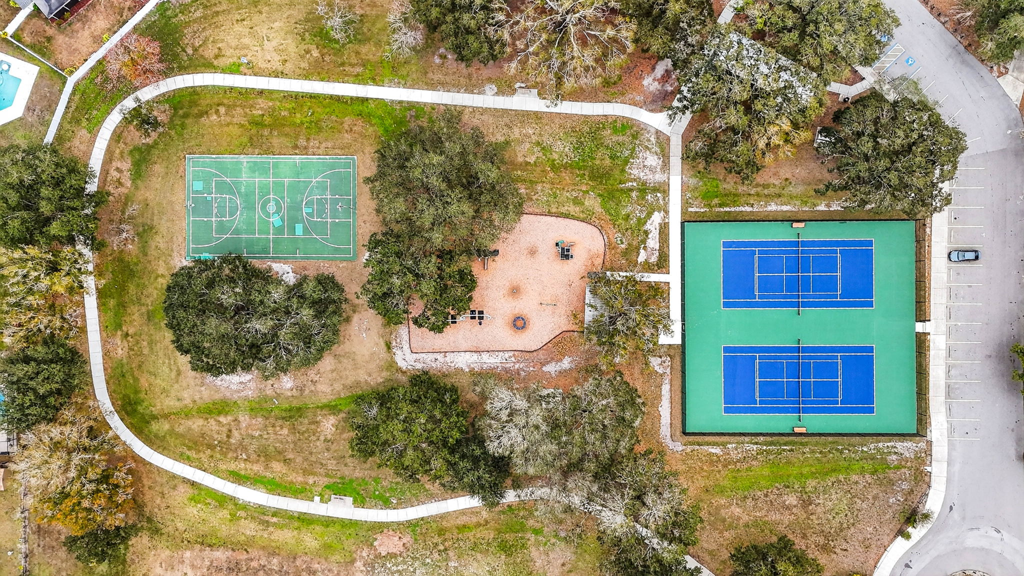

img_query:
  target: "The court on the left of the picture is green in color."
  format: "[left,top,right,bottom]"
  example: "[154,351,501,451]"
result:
[186,155,357,261]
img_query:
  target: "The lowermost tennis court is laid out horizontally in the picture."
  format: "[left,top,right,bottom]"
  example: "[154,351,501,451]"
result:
[685,327,918,434]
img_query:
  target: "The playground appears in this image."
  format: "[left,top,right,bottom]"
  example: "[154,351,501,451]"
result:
[407,214,606,353]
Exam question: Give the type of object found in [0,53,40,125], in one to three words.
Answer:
swimming pool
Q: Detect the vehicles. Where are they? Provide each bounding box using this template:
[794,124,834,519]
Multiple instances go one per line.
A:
[949,249,980,263]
